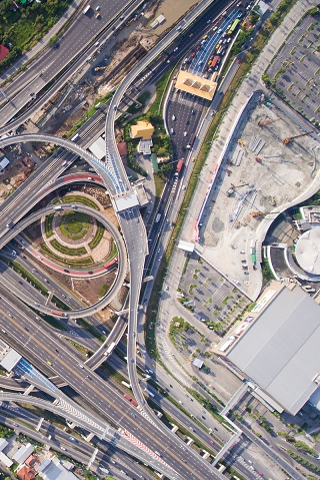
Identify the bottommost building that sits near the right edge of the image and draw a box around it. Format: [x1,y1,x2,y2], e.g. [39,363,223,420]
[202,279,320,419]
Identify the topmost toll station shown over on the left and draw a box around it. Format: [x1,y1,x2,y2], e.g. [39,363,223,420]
[111,191,140,214]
